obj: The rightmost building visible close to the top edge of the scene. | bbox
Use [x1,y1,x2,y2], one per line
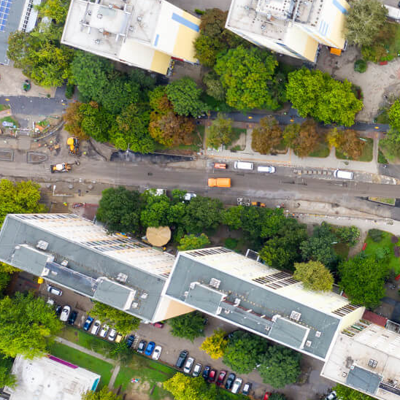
[225,0,351,66]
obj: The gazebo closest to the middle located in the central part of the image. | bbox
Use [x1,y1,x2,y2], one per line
[146,225,173,248]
